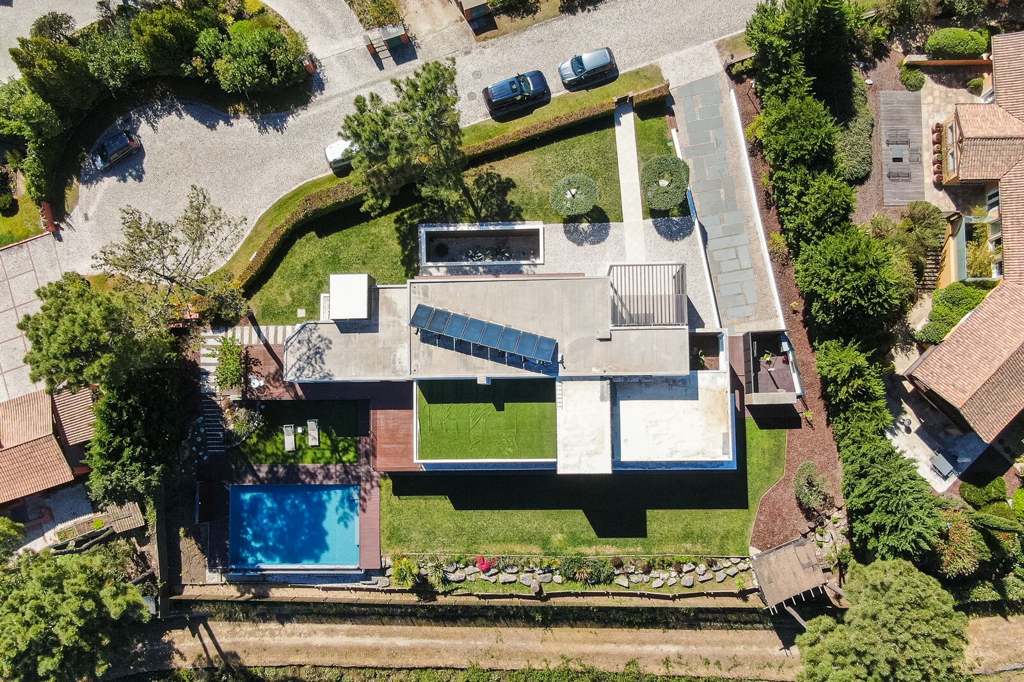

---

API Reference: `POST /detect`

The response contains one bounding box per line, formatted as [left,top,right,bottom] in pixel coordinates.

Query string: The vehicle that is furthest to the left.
[90,129,148,176]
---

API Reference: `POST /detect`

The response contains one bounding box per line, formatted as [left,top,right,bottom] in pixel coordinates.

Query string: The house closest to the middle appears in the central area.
[283,273,737,474]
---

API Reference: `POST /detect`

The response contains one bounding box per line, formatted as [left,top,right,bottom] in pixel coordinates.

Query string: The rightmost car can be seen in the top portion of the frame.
[555,47,620,90]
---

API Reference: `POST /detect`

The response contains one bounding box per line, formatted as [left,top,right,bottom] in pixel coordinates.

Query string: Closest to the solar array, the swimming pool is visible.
[225,484,366,574]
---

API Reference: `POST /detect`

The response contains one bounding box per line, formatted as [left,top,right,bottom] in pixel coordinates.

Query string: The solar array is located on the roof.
[410,305,555,364]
